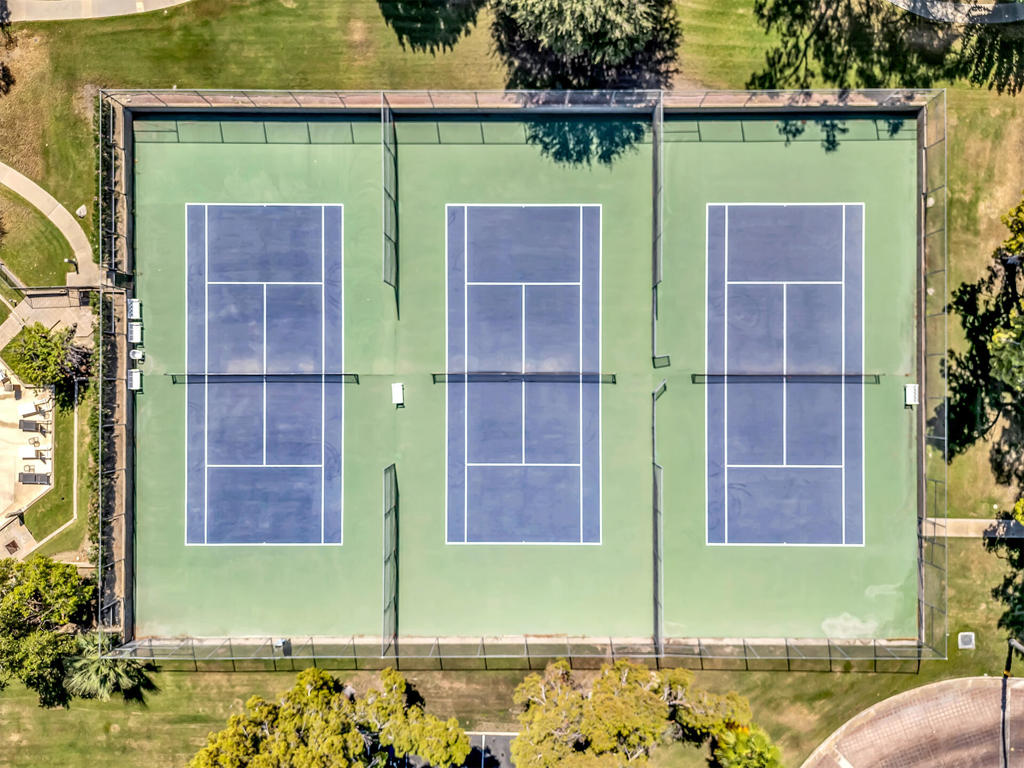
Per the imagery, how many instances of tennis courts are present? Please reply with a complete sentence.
The photo contains 3 tennis courts.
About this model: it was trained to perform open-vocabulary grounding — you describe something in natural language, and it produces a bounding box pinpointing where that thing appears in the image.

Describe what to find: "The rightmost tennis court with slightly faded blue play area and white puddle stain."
[653,113,916,637]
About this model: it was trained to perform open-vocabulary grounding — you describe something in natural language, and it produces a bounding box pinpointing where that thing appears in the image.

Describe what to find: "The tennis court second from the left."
[393,113,653,637]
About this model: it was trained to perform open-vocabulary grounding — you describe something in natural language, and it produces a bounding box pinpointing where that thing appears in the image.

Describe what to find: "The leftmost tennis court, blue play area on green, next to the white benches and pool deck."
[133,113,393,637]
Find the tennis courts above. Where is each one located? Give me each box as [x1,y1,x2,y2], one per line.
[653,113,916,637]
[393,113,653,637]
[133,113,393,637]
